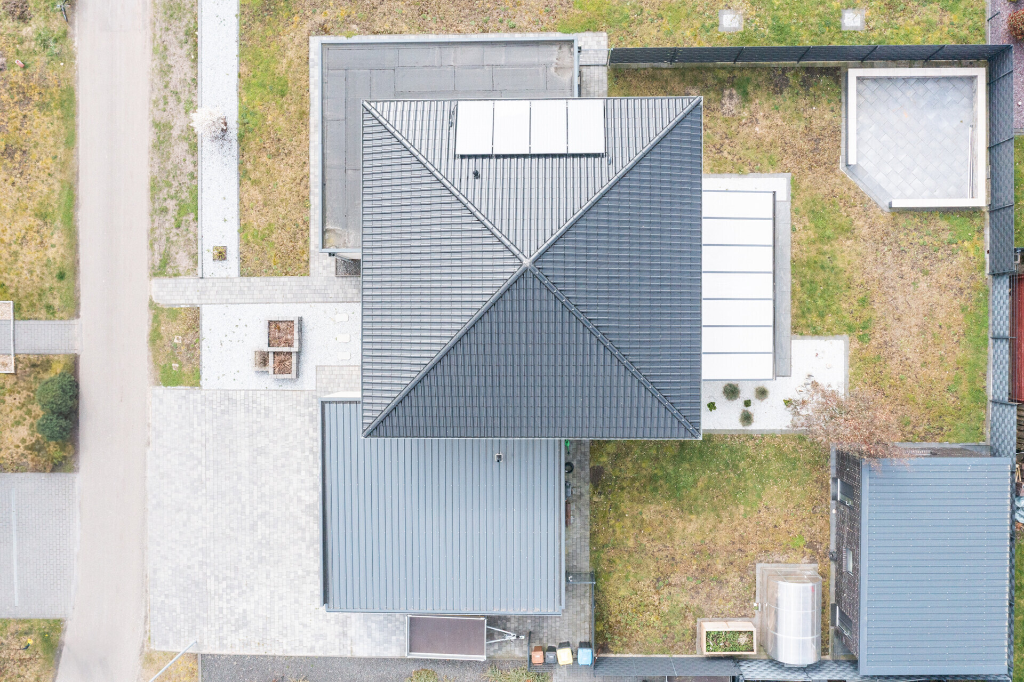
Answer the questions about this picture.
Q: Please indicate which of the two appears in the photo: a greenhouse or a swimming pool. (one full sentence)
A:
The image shows a greenhouse.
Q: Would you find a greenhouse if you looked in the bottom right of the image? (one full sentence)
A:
Yes, a greenhouse is visible in the bottom right of the image.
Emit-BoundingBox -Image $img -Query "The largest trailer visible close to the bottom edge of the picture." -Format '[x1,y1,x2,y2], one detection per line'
[405,613,525,662]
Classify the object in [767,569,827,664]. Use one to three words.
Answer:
greenhouse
